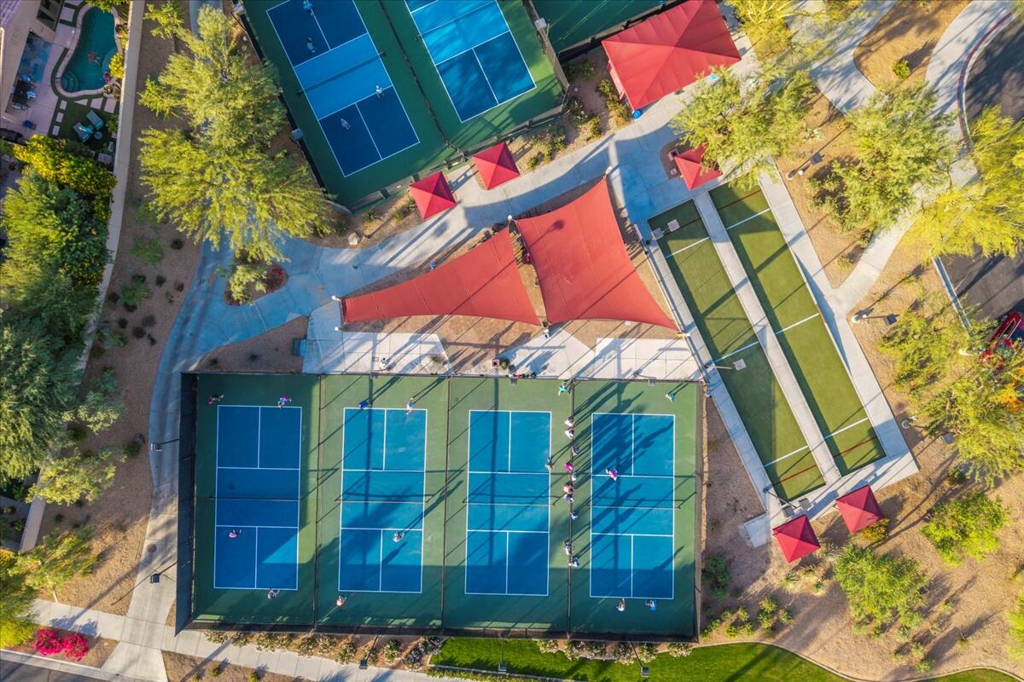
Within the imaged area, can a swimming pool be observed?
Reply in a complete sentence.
Yes, the frame does contain a swimming pool.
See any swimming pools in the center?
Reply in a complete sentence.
No, in the center there is no swimming pool.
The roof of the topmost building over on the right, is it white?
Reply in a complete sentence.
No, the roof of the topmost building over on the right is actually red.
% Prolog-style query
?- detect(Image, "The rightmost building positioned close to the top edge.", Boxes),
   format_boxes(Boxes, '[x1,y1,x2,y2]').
[601,0,740,112]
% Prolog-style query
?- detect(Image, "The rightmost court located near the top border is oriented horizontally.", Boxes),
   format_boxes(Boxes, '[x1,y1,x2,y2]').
[535,0,683,58]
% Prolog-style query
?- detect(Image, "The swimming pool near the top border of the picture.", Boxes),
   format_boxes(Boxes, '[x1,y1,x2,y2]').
[57,5,122,96]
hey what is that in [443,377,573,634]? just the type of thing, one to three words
sports court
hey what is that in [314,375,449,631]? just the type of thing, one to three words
sports court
